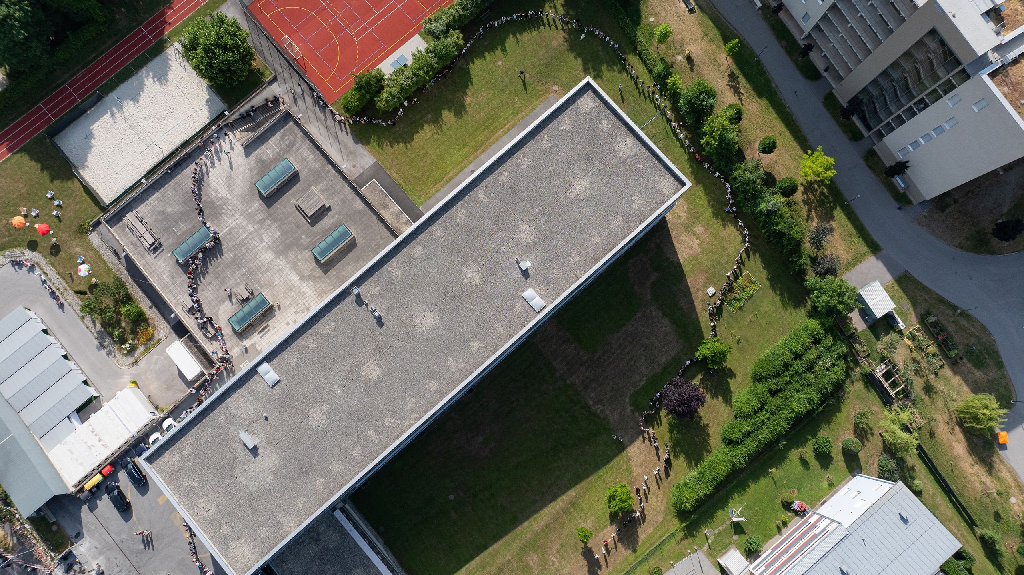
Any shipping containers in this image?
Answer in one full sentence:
Yes, a shipping container is visible in the scene.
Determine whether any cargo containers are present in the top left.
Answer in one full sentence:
No, in the top left there is no cargo container.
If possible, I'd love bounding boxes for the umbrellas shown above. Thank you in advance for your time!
[14,216,29,229]
[79,264,94,277]
[39,224,54,236]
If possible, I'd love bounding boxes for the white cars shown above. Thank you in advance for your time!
[165,418,179,433]
[151,433,165,445]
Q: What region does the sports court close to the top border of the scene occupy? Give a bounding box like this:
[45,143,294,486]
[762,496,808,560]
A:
[253,0,439,104]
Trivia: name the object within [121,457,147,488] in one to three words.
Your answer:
car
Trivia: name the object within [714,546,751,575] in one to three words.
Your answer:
shed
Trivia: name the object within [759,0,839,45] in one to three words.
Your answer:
building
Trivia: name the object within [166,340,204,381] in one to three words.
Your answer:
shipping container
